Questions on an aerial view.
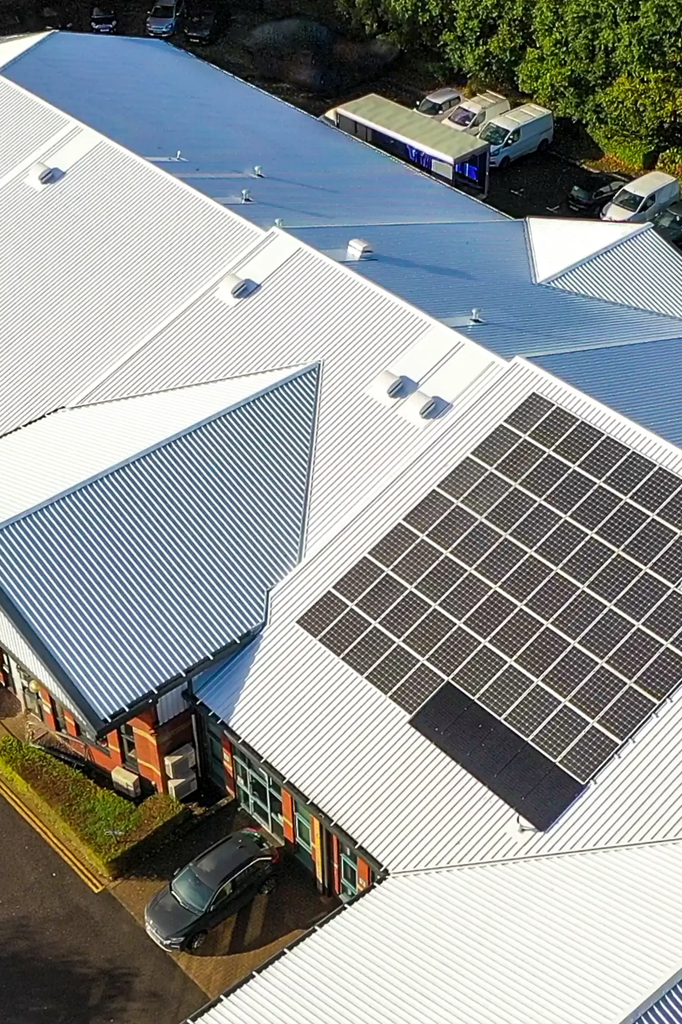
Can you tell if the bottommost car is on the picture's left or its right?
left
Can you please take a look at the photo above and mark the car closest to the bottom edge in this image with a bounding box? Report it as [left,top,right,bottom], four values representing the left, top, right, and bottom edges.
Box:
[144,826,283,950]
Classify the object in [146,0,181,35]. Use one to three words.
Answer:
car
